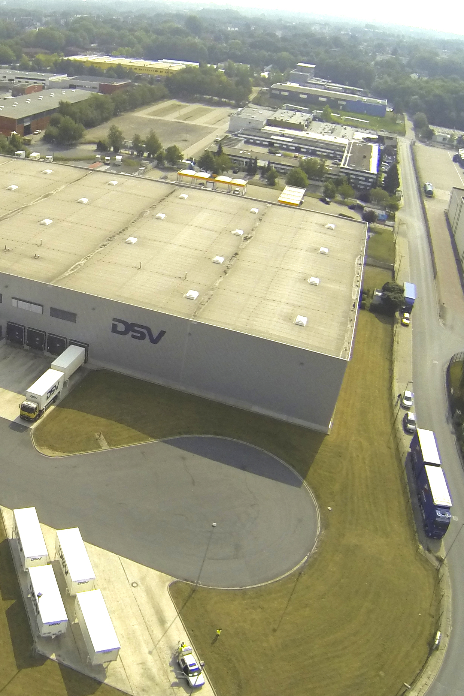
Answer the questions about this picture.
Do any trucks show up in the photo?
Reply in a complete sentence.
Yes, there's a truck here.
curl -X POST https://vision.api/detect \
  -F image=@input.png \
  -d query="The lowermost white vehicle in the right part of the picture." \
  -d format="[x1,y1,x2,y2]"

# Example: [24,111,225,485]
[418,433,460,540]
